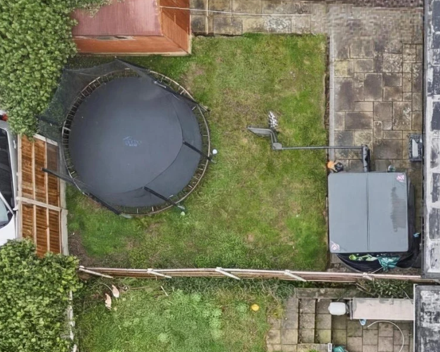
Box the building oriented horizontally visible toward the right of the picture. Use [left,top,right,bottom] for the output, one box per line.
[351,297,411,321]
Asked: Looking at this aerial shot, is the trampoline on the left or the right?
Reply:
left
